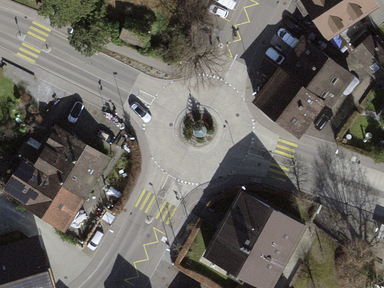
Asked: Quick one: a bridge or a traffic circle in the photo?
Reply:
traffic circle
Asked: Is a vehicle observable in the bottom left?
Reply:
Yes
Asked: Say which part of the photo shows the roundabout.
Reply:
center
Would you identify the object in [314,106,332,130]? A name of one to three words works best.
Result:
car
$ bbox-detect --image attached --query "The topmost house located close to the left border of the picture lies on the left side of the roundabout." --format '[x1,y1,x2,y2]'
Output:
[4,124,110,230]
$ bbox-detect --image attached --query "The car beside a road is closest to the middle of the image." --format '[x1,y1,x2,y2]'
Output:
[131,99,151,120]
